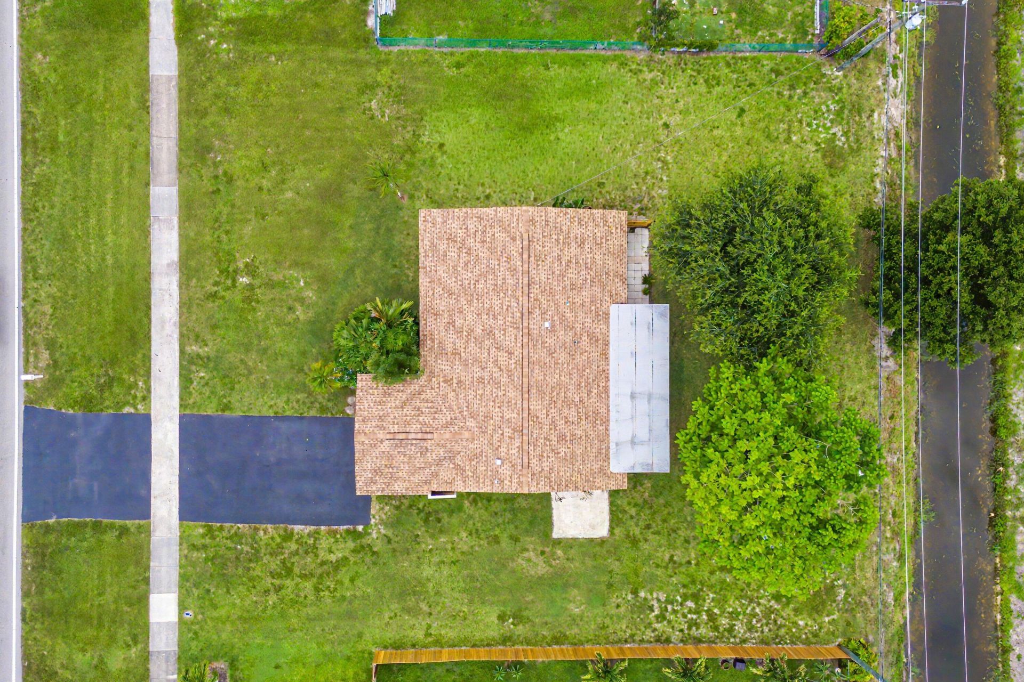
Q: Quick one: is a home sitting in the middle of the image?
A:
Yes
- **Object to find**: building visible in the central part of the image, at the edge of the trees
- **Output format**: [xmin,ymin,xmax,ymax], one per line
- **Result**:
[354,206,628,496]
